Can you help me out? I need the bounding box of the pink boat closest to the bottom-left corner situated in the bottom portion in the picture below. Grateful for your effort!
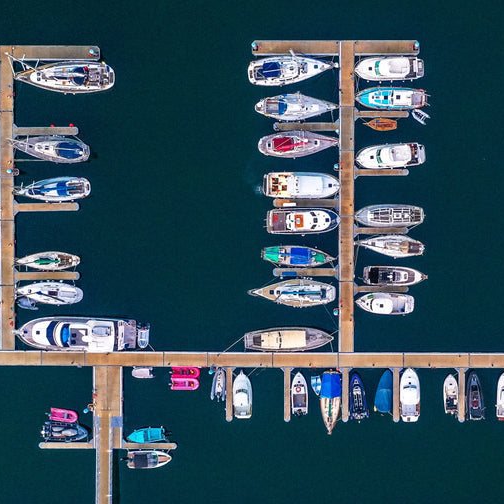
[47,407,77,424]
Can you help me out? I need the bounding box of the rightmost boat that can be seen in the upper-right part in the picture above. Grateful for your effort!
[413,108,431,124]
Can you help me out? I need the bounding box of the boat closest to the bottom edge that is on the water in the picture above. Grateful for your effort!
[118,449,172,469]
